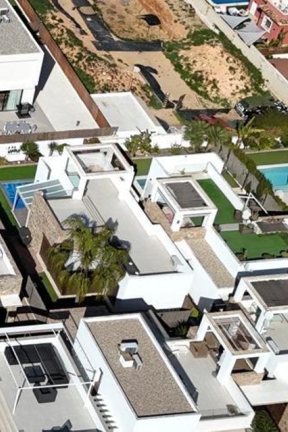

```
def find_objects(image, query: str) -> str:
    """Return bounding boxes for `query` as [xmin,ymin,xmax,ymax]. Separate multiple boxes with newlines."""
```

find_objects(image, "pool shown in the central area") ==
[132,174,157,188]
